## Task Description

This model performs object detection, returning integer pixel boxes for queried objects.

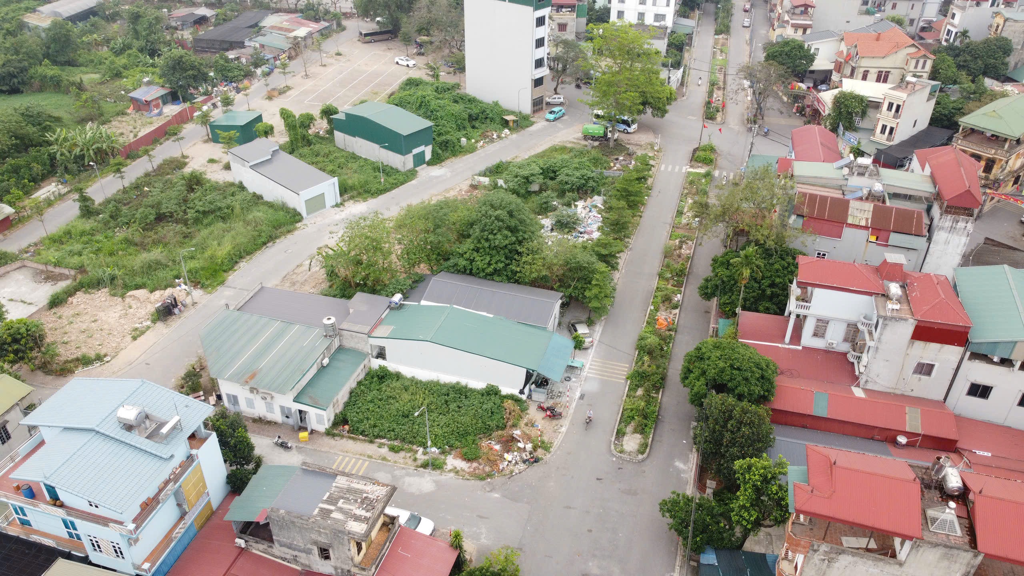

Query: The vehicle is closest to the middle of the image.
[566,316,597,345]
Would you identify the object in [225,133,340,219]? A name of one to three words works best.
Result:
shed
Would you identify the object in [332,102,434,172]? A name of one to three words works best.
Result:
building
